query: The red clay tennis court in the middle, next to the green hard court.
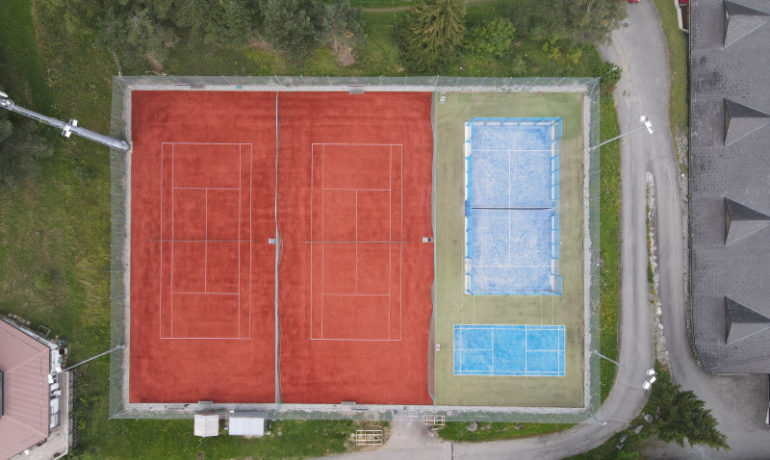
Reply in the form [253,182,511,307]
[277,91,433,404]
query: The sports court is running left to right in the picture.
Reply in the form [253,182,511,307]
[454,325,565,377]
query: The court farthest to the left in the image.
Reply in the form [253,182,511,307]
[129,91,278,404]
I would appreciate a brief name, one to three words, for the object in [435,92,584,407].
sports court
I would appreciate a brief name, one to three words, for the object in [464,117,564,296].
sports court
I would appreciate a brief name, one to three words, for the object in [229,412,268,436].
shed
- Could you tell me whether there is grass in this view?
Yes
